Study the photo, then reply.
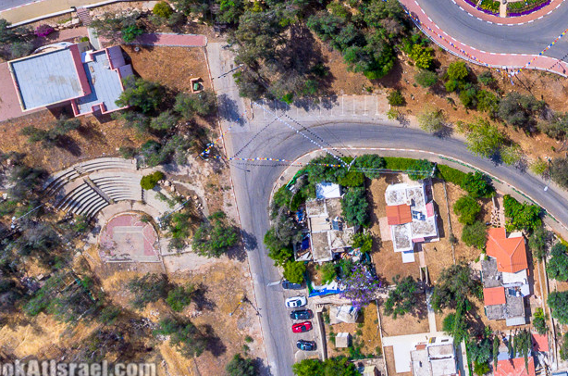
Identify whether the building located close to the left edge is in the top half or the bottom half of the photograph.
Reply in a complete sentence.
You can find the building located close to the left edge in the top half.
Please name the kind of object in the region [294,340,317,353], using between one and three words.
vehicle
